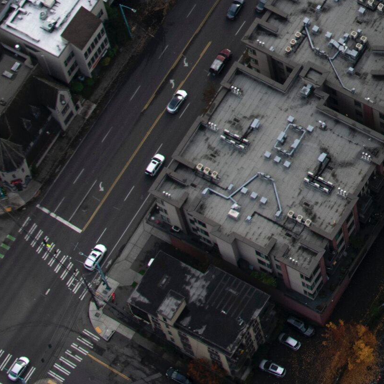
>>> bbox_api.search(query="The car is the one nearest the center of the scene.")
[142,151,168,180]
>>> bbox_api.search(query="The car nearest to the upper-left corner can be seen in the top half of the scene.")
[167,89,188,115]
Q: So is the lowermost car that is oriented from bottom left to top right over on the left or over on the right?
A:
left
